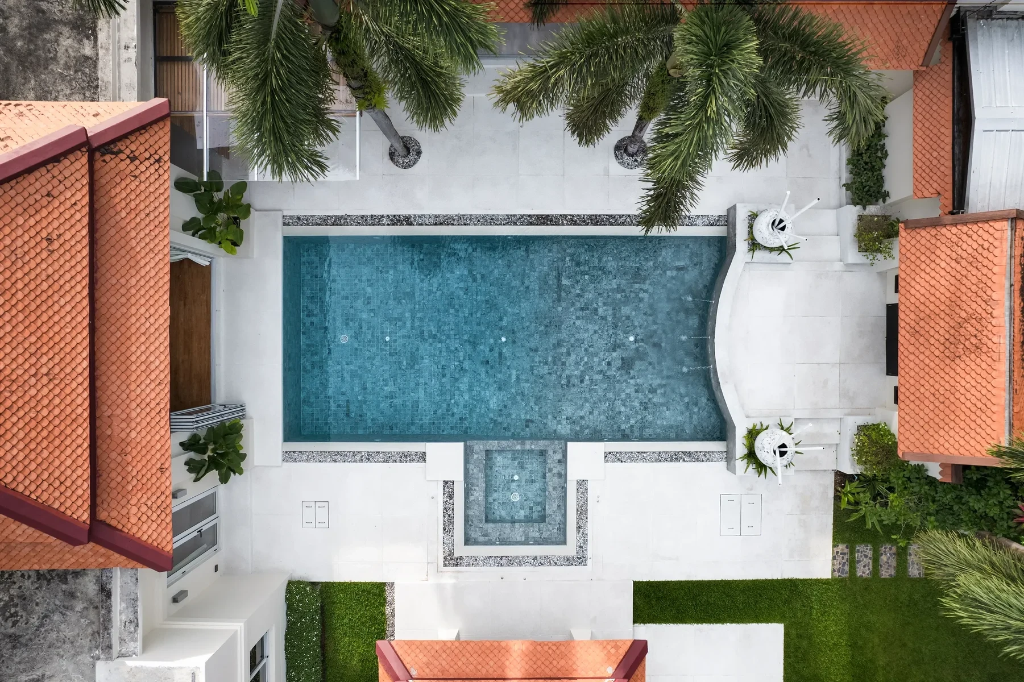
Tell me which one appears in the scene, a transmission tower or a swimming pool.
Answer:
swimming pool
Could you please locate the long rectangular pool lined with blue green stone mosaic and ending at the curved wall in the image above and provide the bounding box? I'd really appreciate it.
[283,226,727,555]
